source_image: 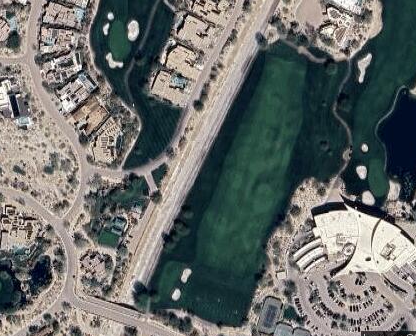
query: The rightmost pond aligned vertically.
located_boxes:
[378,89,416,198]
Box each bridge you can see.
[91,294,165,330]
